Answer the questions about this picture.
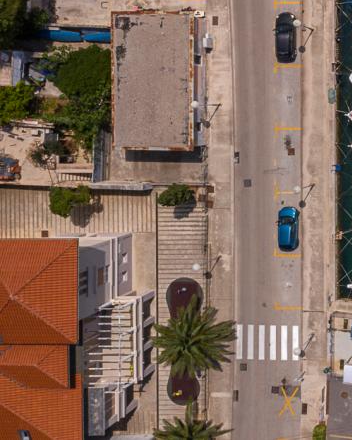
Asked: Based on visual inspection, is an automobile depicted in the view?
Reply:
Yes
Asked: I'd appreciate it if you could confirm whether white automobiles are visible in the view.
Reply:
No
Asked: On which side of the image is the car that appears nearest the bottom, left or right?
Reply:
right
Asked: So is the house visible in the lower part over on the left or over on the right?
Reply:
left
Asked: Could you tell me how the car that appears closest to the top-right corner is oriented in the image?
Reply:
up and down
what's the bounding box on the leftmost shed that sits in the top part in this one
[12,51,41,86]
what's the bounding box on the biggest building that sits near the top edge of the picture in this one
[112,12,211,151]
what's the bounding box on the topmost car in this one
[272,13,297,63]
